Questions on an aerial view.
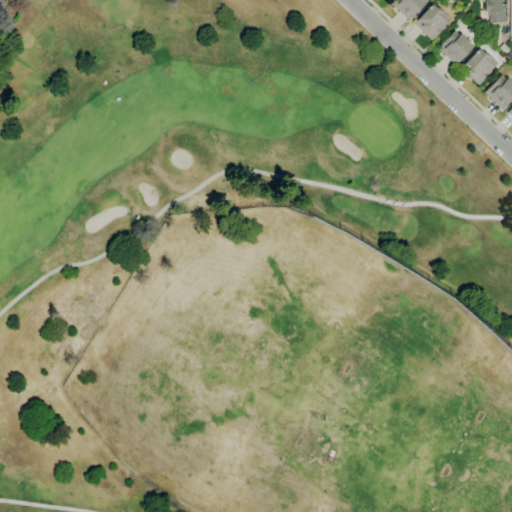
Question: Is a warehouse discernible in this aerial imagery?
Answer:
No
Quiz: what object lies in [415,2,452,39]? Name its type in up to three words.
house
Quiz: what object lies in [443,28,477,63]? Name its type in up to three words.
house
